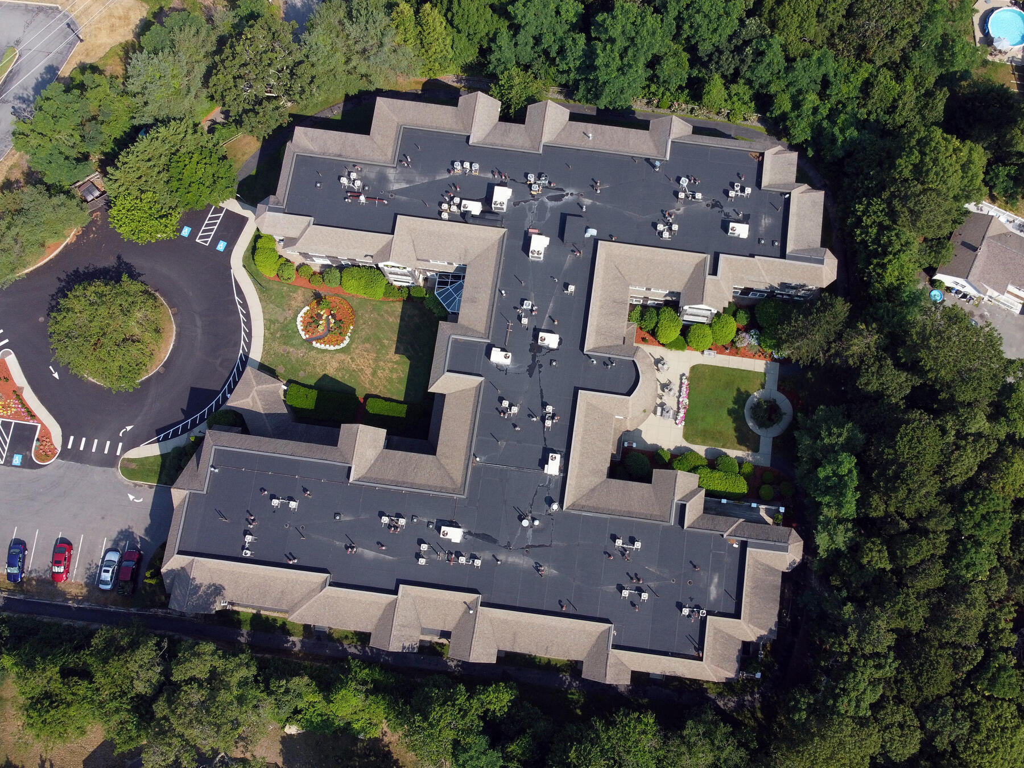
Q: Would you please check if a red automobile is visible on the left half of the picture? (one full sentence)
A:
Yes, the scene does show a red automobile on the left half of the picture.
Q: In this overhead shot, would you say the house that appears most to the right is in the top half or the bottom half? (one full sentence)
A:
You can find the house that appears most to the right in the top half.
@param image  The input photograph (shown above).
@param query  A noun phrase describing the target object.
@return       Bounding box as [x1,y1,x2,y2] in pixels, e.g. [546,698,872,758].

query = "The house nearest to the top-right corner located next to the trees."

[928,212,1024,315]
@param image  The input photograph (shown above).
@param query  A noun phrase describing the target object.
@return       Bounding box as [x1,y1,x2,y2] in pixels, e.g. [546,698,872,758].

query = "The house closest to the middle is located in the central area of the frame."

[160,91,838,685]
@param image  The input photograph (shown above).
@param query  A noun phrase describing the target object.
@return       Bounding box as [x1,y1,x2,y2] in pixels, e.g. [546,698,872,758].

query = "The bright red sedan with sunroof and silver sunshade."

[47,542,73,584]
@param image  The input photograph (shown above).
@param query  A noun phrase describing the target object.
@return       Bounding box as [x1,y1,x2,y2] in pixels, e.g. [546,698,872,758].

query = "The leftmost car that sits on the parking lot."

[3,543,31,584]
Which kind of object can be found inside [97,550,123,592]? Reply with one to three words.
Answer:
car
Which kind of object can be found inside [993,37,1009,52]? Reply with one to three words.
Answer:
umbrella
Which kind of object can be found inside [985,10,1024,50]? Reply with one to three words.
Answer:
swimming pool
